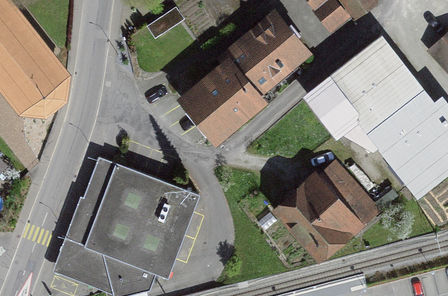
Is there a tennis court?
No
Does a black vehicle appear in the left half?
Yes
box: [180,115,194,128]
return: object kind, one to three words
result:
vehicle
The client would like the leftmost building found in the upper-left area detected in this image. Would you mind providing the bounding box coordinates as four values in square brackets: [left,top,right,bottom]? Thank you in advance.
[0,0,71,118]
